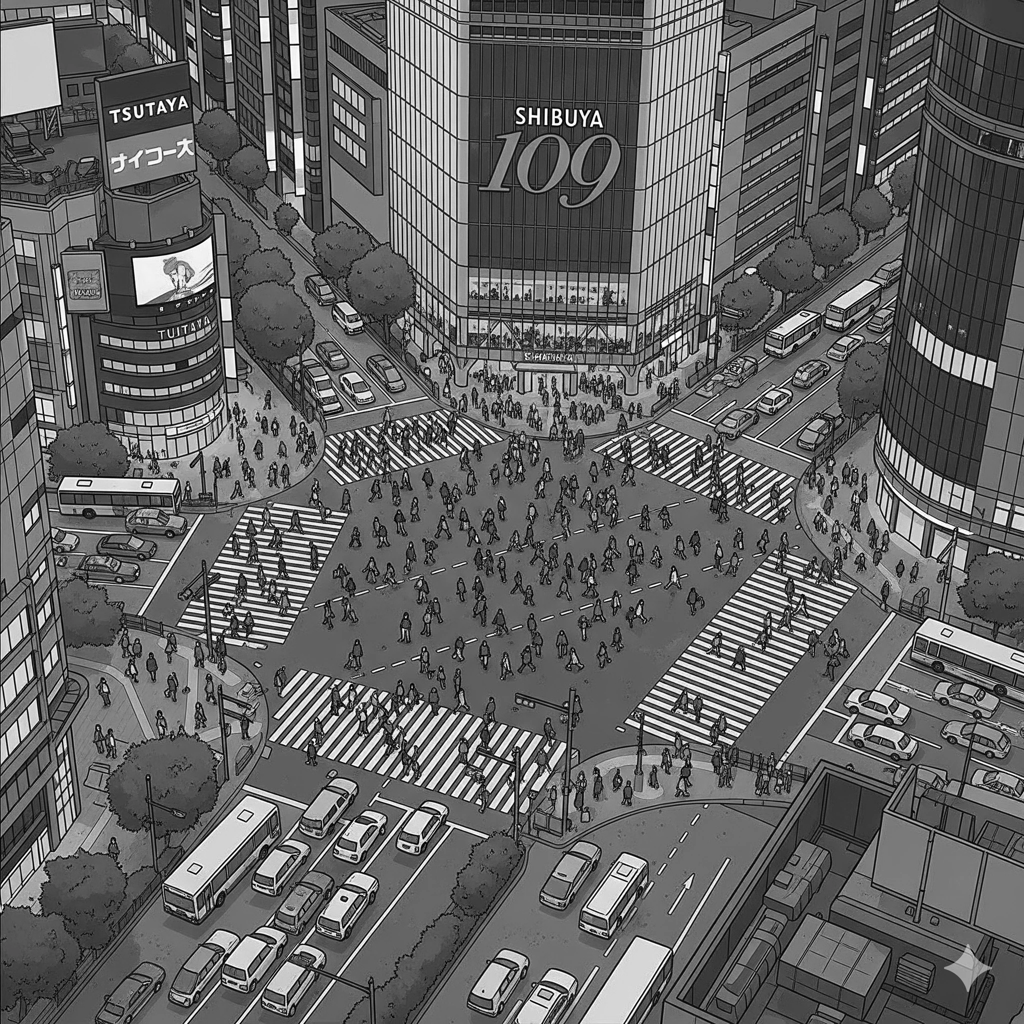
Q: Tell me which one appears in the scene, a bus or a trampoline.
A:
bus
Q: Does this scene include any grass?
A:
No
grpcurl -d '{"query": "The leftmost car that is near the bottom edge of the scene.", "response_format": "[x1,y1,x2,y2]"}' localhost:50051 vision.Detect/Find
[93,969,169,1024]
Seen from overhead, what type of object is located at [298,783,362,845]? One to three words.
van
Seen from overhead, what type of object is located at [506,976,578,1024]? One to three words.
car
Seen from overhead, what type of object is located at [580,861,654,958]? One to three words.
vehicle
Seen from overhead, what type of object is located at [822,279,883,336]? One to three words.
bus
